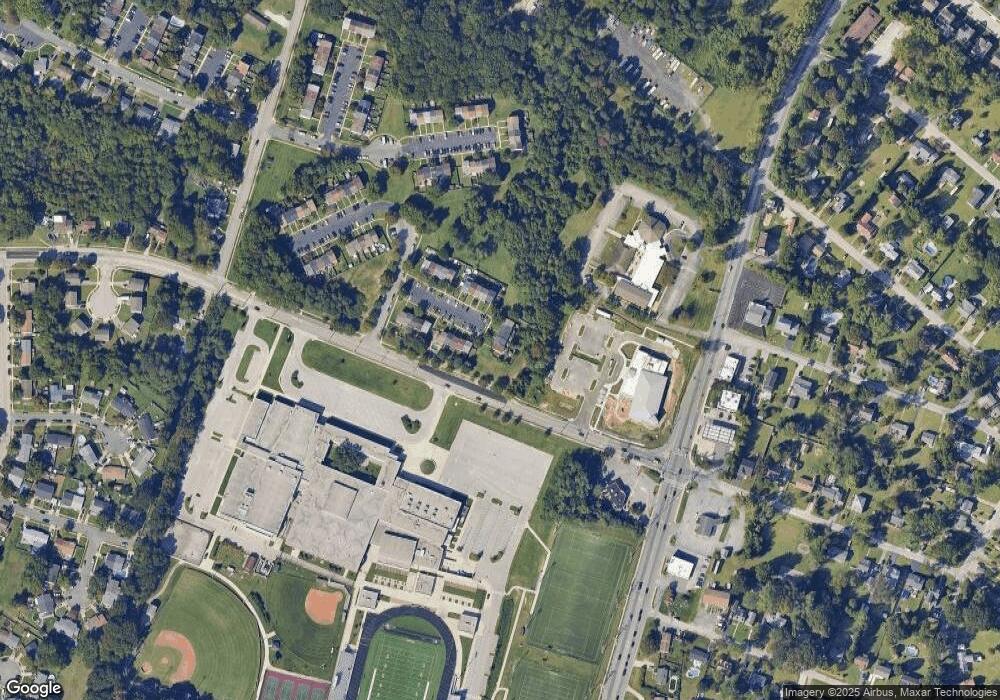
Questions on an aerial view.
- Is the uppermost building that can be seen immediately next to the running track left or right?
left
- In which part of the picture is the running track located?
bottom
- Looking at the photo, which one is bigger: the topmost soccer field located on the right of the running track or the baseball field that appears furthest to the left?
the soccer field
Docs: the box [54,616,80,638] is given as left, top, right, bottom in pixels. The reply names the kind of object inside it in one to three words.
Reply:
house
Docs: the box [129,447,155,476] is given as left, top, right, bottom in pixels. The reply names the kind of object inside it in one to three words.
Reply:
house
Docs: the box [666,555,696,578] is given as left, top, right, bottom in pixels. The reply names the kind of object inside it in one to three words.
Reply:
building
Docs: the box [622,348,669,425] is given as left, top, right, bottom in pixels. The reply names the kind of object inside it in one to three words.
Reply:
building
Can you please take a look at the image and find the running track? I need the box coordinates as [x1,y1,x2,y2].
[348,604,456,700]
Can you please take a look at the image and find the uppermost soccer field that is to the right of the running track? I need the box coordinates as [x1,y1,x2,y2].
[523,522,643,664]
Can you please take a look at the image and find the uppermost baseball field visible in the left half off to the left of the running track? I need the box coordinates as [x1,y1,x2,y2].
[303,586,345,627]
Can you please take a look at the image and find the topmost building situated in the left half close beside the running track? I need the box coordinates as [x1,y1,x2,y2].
[221,398,468,571]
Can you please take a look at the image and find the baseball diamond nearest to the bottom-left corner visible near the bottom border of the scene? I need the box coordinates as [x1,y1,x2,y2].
[141,630,195,683]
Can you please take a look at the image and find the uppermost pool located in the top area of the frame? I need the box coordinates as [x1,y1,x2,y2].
[923,241,938,256]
